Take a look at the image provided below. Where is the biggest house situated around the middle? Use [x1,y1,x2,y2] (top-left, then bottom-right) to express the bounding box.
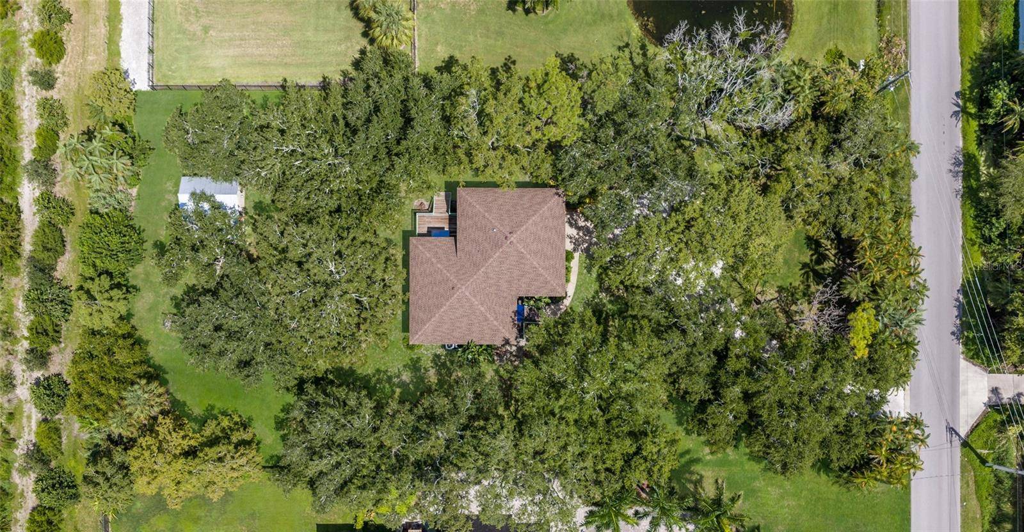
[409,187,566,346]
